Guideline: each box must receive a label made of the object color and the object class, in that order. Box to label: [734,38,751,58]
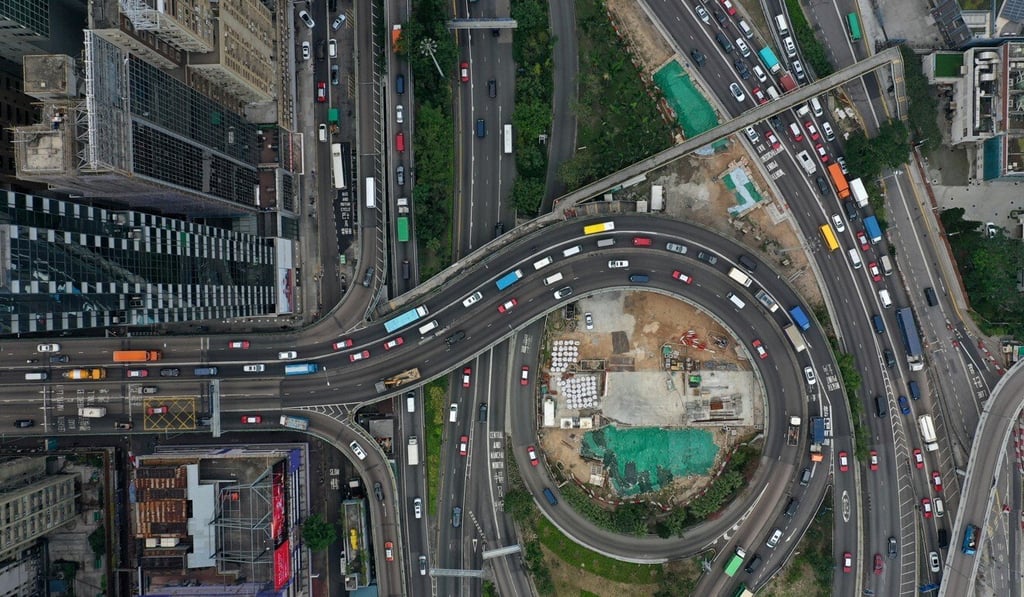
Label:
white car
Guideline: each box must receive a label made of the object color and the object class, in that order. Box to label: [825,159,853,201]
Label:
orange truck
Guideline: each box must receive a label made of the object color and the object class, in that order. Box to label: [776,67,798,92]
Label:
red truck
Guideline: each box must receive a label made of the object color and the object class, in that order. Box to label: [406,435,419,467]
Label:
white vehicle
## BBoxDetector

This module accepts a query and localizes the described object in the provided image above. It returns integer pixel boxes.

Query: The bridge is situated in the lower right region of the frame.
[938,362,1024,597]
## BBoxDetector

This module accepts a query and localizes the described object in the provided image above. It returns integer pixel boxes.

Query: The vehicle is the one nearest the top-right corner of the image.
[845,11,864,42]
